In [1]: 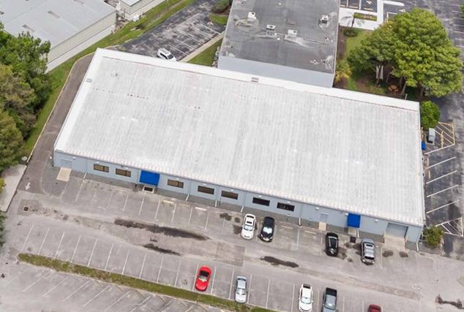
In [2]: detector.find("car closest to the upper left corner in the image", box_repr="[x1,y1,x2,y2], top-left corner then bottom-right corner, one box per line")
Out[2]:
[154,45,177,59]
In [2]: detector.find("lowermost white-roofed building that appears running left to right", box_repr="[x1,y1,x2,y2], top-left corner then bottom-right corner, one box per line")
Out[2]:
[54,46,423,242]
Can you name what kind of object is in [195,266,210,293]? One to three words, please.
car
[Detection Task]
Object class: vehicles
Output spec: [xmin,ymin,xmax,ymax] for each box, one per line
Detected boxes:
[241,213,256,240]
[259,215,274,242]
[360,239,375,266]
[367,303,381,312]
[297,283,312,312]
[154,45,177,59]
[325,231,339,258]
[233,275,248,305]
[195,266,210,293]
[321,286,337,312]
